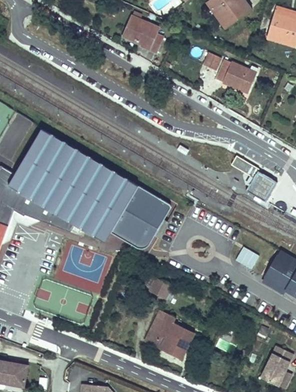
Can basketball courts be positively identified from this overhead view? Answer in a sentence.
Yes, a basketball court is visible in the scene.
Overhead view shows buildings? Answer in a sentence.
Yes, you can see a building in this photo.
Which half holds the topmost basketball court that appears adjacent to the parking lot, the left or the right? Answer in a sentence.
The topmost basketball court that appears adjacent to the parking lot sits on the left side.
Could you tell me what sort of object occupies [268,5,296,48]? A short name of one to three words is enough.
house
